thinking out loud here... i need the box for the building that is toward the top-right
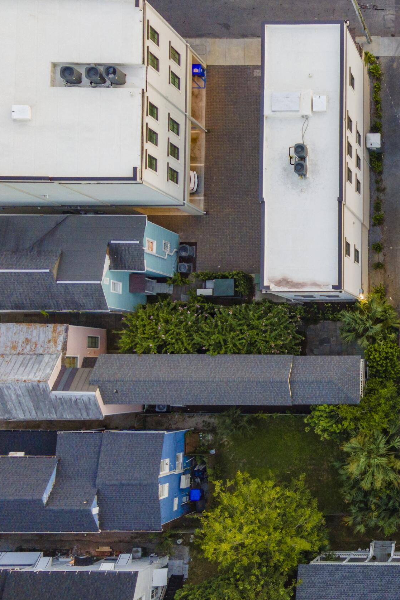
[255,12,370,297]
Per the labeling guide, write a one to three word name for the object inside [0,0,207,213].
building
